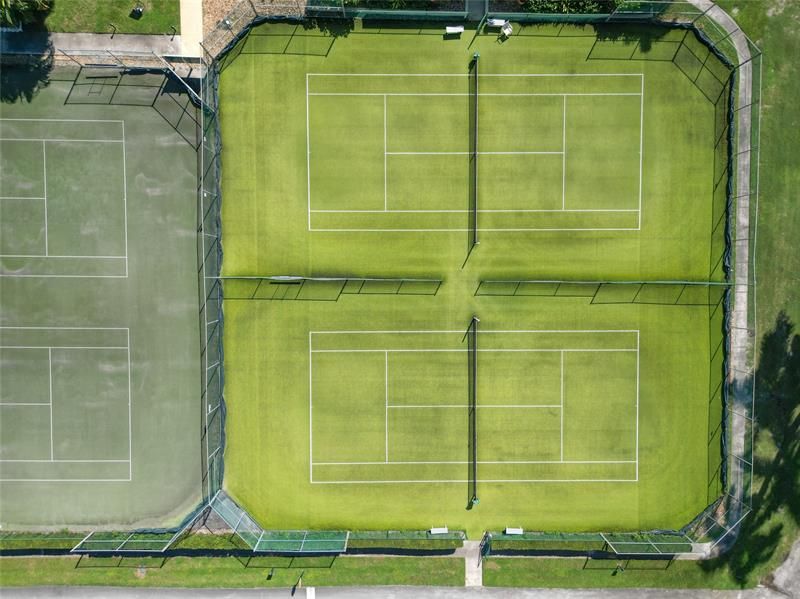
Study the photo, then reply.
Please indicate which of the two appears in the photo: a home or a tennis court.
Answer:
tennis court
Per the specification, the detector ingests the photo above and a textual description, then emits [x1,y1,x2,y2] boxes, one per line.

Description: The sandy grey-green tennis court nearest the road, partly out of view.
[0,302,220,530]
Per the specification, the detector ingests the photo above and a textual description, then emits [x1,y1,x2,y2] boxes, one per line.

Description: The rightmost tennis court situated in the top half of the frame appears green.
[215,19,730,282]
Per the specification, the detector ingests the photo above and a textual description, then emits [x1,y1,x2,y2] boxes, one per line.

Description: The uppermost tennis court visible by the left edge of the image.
[0,68,217,302]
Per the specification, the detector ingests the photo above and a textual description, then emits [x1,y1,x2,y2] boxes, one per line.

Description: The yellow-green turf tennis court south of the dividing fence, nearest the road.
[218,282,727,541]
